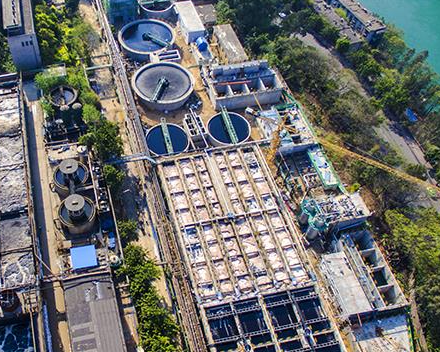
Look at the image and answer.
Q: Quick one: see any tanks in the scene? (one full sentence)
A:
Yes, the photo shows a tank.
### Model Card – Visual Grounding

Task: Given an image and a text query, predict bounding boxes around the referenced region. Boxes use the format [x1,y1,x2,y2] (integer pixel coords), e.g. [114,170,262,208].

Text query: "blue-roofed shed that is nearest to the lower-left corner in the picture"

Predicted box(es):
[69,244,98,273]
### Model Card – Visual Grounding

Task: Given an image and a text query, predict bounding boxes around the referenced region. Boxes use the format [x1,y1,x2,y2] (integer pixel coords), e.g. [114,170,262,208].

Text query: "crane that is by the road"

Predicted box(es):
[246,106,440,204]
